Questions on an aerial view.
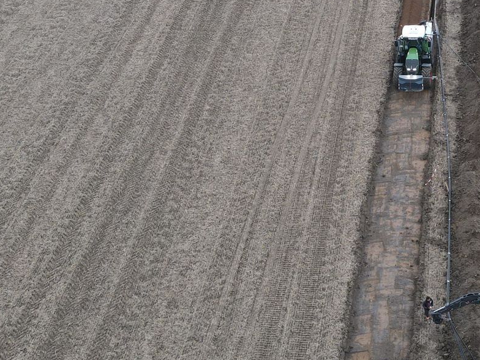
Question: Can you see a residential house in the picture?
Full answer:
No, I find no residential house anywhere in the image.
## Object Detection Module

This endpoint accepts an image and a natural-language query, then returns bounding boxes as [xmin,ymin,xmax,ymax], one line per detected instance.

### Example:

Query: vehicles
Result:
[394,22,449,97]
[434,289,480,332]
